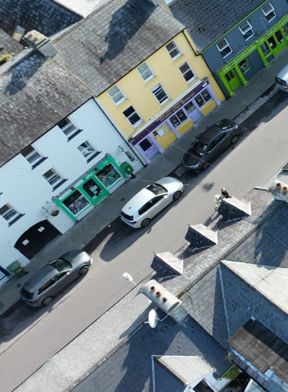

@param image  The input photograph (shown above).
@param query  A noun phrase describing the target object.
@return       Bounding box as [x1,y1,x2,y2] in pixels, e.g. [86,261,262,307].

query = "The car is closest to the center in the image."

[116,180,185,234]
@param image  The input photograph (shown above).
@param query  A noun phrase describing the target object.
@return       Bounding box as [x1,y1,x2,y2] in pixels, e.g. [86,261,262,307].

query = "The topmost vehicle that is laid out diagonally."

[178,120,244,175]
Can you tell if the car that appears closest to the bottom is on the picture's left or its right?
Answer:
left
